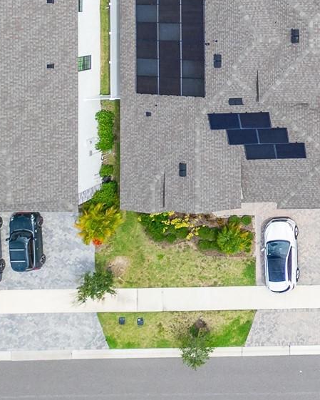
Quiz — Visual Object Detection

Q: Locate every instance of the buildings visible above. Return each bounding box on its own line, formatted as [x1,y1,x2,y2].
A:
[0,0,101,212]
[120,0,320,213]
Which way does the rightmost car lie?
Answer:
up and down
